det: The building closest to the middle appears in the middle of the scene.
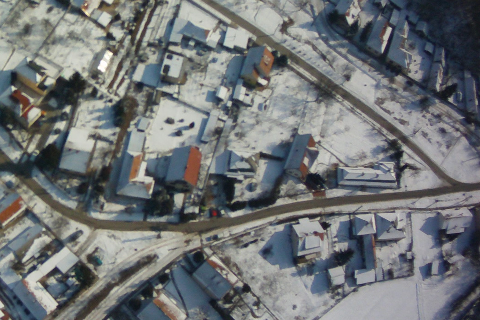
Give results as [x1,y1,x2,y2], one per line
[224,150,256,179]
